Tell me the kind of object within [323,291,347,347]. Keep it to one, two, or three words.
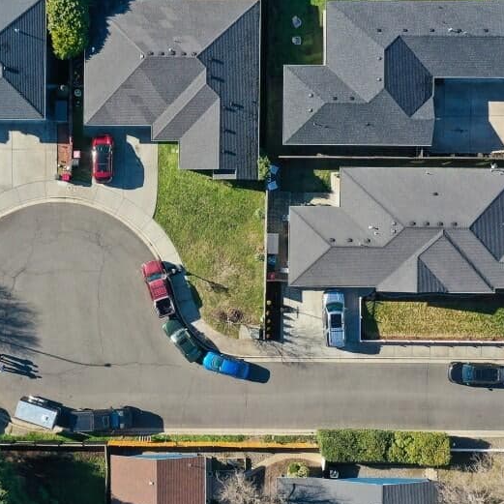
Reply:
truck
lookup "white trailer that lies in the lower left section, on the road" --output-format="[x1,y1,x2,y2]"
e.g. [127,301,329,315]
[13,394,69,428]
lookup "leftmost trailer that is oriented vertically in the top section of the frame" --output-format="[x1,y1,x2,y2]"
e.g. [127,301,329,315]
[57,124,73,181]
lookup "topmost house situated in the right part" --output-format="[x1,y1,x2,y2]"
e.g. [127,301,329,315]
[282,0,504,147]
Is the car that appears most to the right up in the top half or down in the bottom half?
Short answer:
bottom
